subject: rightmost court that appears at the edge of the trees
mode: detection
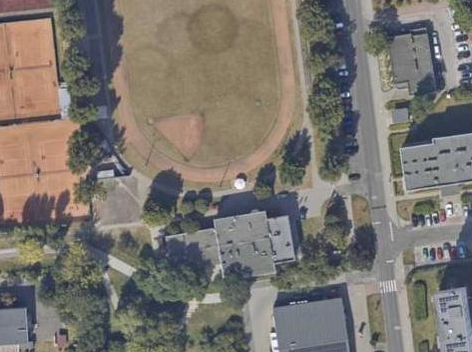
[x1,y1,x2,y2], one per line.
[34,121,88,217]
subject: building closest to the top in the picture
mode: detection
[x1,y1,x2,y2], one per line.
[391,28,436,94]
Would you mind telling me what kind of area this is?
sports ground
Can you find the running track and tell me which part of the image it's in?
top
